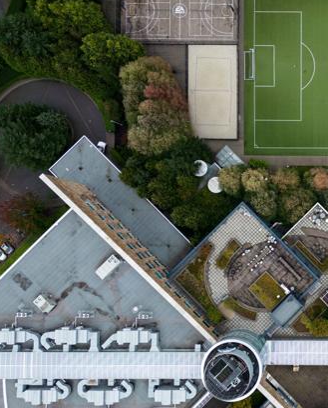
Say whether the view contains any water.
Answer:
No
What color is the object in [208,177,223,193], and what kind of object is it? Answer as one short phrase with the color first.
white umbrella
